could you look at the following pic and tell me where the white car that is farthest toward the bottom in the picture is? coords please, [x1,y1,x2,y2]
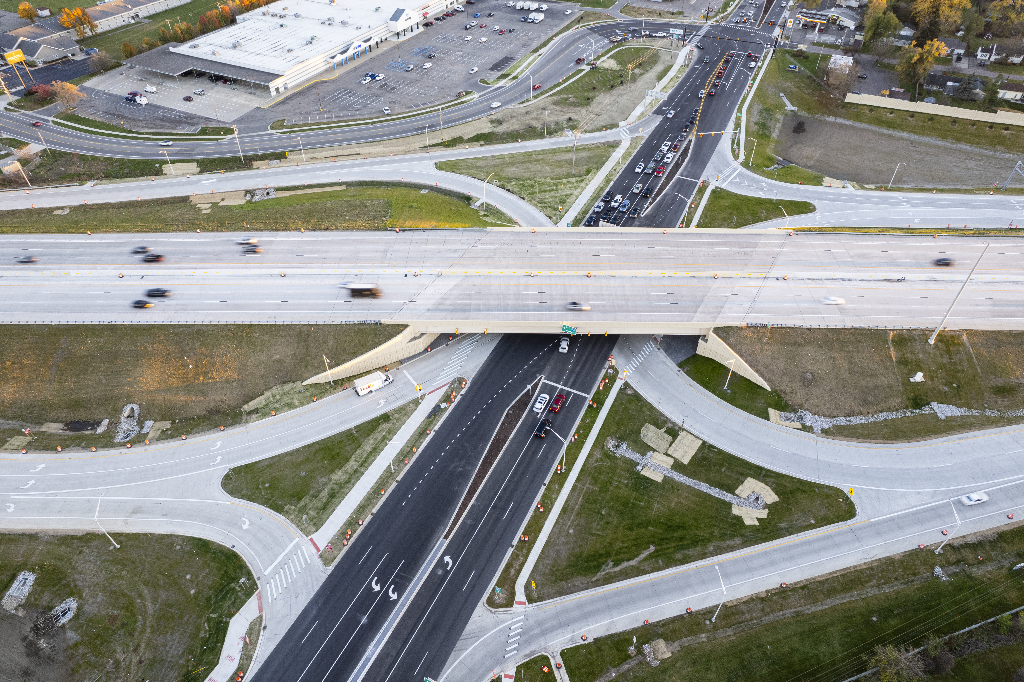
[959,493,988,508]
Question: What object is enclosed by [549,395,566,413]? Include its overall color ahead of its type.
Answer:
red car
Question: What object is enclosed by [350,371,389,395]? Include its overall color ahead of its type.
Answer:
white truck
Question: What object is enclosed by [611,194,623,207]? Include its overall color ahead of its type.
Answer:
white vehicle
